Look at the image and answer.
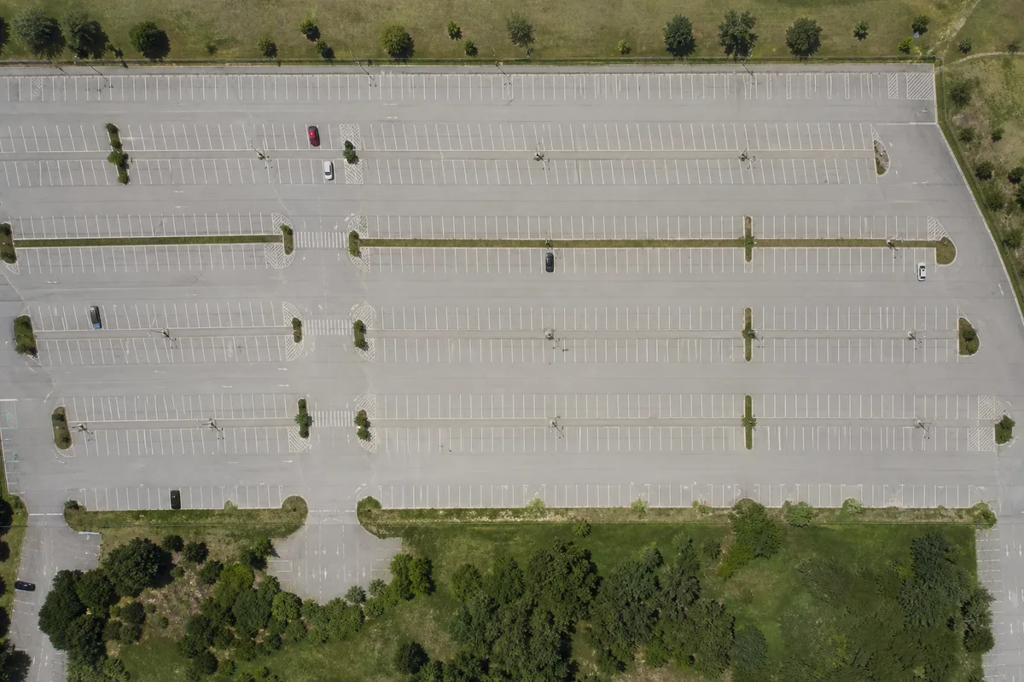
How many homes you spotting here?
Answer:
none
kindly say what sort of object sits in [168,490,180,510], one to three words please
vehicle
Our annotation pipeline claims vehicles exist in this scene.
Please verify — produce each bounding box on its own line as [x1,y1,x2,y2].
[918,263,928,281]
[545,251,554,271]
[168,490,180,510]
[323,160,333,180]
[87,306,101,328]
[308,125,318,145]
[14,581,34,592]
